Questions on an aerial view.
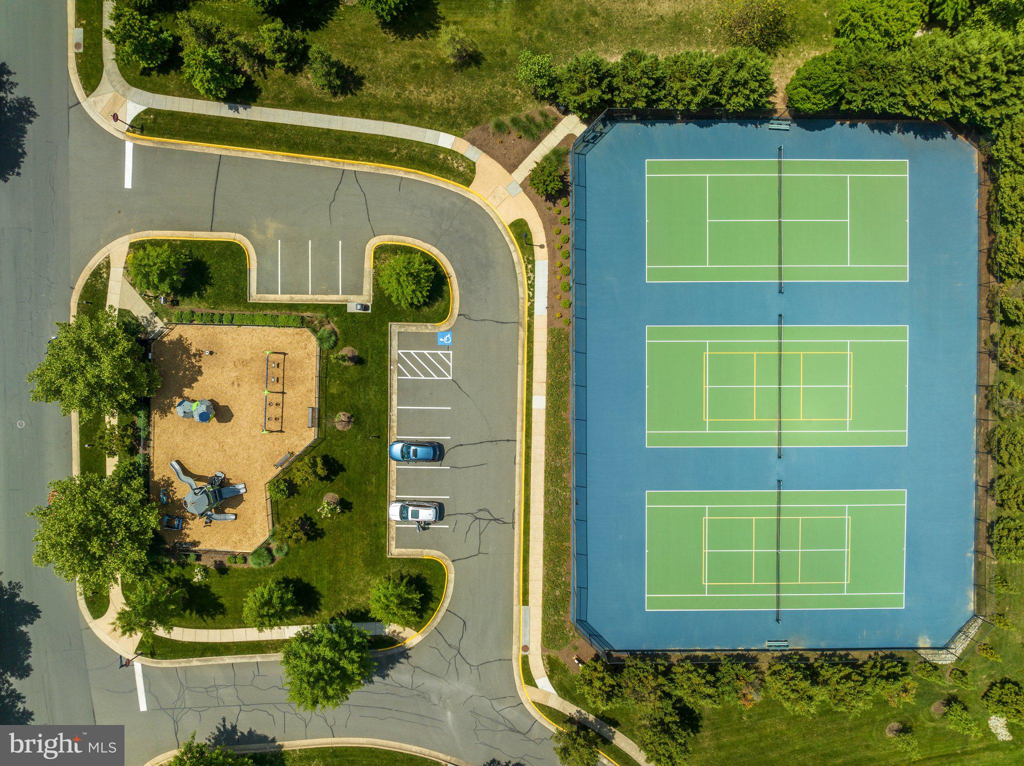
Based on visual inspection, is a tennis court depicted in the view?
Yes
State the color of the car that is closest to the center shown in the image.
blue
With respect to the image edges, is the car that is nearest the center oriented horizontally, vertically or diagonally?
horizontally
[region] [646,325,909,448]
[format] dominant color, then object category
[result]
green tennis court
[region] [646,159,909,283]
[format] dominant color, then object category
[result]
green tennis court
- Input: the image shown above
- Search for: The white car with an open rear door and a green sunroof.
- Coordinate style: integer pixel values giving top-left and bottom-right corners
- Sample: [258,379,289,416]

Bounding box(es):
[388,500,439,533]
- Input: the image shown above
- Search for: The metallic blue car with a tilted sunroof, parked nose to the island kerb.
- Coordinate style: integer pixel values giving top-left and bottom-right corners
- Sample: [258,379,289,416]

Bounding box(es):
[389,439,440,464]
